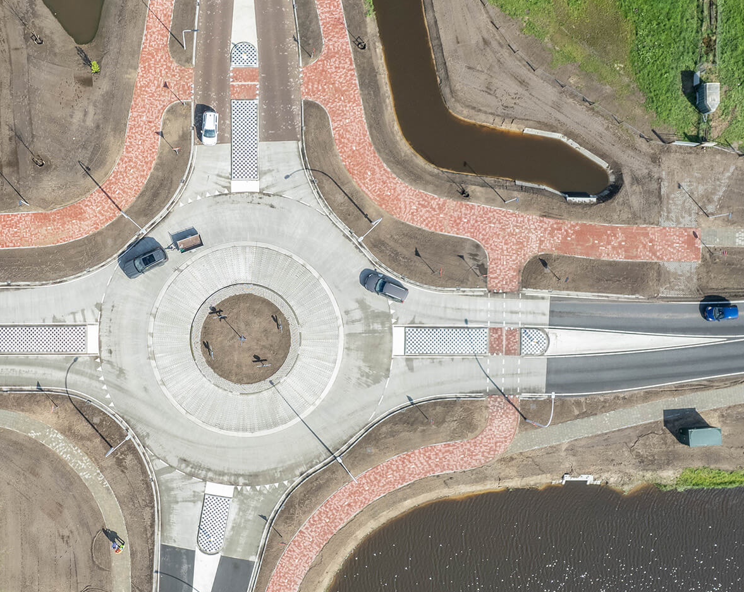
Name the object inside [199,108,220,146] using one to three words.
car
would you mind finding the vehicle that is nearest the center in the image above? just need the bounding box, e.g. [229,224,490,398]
[367,274,412,304]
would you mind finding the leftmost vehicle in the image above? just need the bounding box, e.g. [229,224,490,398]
[124,249,172,281]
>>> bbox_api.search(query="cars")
[704,303,742,322]
[367,274,412,304]
[124,249,172,281]
[199,108,220,146]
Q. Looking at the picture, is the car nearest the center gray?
Yes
